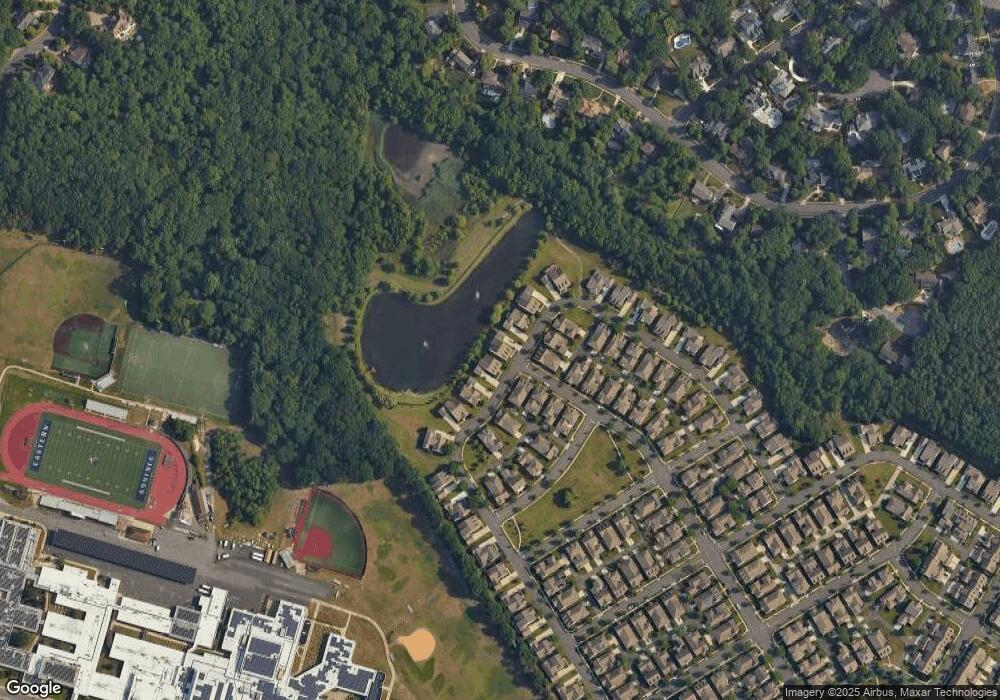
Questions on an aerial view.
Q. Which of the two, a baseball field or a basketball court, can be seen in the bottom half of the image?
baseball field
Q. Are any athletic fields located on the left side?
Yes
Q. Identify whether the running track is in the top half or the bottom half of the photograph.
bottom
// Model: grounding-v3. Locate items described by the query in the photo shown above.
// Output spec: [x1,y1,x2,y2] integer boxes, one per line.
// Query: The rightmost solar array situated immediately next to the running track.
[51,529,197,585]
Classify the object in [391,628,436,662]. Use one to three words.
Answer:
baseball field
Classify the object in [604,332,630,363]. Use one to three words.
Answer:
house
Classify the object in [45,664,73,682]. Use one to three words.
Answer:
solar array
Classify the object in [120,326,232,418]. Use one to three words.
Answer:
sports field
